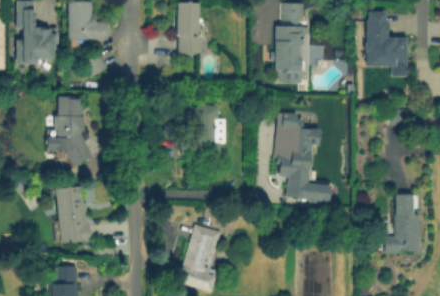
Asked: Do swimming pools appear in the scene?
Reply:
Yes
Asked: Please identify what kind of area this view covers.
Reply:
residential area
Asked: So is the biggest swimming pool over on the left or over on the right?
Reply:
right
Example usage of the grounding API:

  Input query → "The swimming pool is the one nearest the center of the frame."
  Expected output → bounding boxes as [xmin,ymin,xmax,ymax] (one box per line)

[202,55,216,77]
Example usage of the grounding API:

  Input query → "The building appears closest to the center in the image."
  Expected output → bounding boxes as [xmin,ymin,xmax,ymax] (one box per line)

[196,106,226,146]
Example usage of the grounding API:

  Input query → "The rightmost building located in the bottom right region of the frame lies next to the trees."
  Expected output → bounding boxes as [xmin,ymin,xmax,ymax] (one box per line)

[386,195,418,256]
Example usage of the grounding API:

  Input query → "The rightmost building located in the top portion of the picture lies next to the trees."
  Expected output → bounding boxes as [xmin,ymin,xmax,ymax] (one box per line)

[366,12,408,78]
